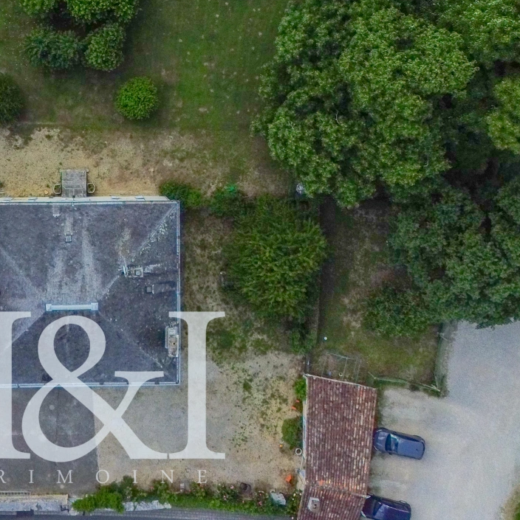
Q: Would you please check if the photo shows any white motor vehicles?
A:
No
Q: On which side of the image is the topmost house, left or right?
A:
left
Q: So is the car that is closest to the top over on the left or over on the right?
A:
right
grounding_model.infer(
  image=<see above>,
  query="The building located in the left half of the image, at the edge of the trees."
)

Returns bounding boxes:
[0,196,182,389]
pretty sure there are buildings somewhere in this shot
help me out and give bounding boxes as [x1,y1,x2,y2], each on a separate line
[0,196,182,389]
[287,370,377,520]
